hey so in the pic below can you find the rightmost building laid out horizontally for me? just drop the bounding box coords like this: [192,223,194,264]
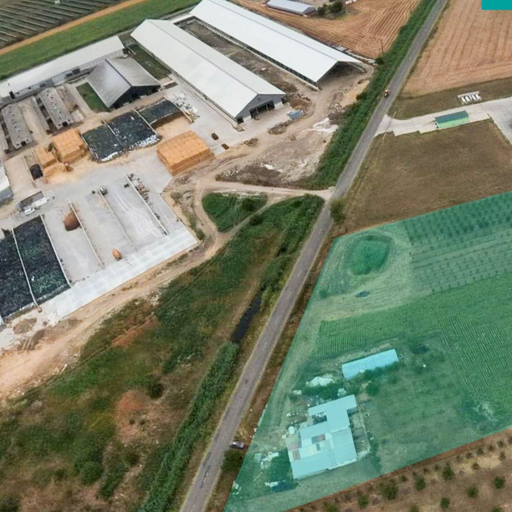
[432,112,468,129]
